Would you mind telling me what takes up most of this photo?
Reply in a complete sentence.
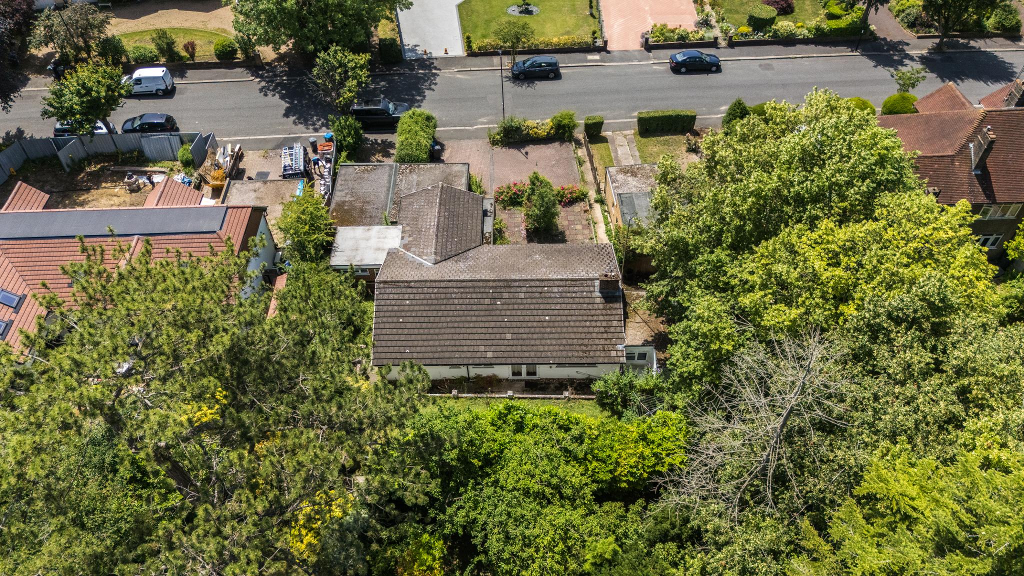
Most of the picture is covered by trees.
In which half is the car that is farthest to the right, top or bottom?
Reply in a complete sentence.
The top half of the photo is where the car that is farthest to the right is.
